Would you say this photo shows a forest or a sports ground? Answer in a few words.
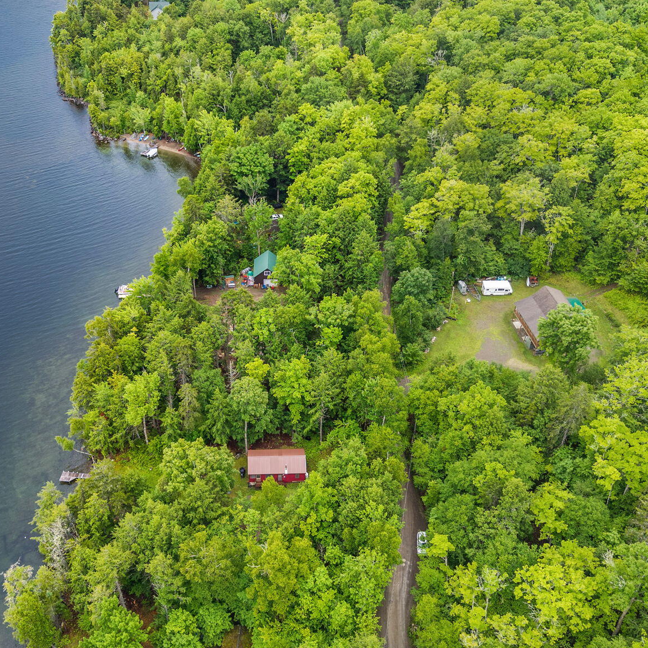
forest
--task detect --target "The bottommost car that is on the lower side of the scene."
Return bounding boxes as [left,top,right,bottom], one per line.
[416,527,428,553]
